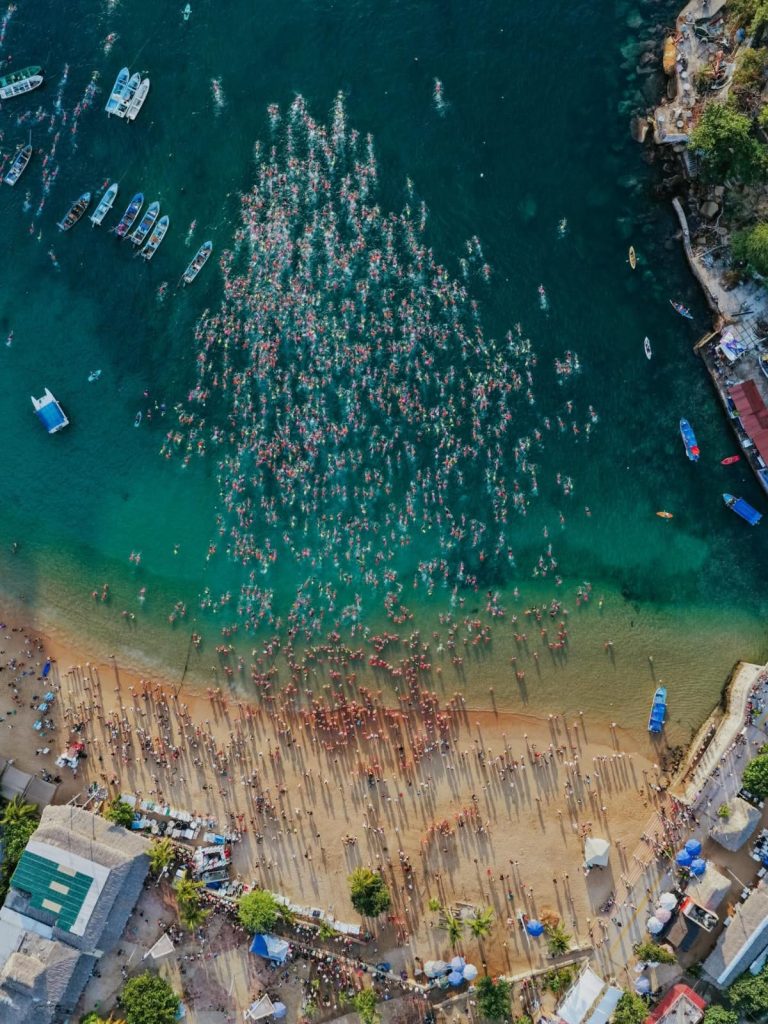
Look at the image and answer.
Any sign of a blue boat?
Yes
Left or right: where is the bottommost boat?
right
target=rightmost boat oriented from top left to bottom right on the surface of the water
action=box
[724,493,766,528]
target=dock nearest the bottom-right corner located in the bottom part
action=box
[667,659,764,799]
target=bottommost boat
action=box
[647,684,668,736]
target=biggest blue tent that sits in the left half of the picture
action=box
[249,934,291,966]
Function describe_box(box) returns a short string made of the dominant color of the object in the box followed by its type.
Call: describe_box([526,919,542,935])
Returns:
blue umbrella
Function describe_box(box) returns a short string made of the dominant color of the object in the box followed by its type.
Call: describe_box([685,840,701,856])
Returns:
blue umbrella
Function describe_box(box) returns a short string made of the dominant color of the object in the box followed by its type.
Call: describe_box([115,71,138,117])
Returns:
blue boat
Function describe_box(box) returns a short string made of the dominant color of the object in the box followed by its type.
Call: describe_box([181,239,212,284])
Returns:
blue boat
